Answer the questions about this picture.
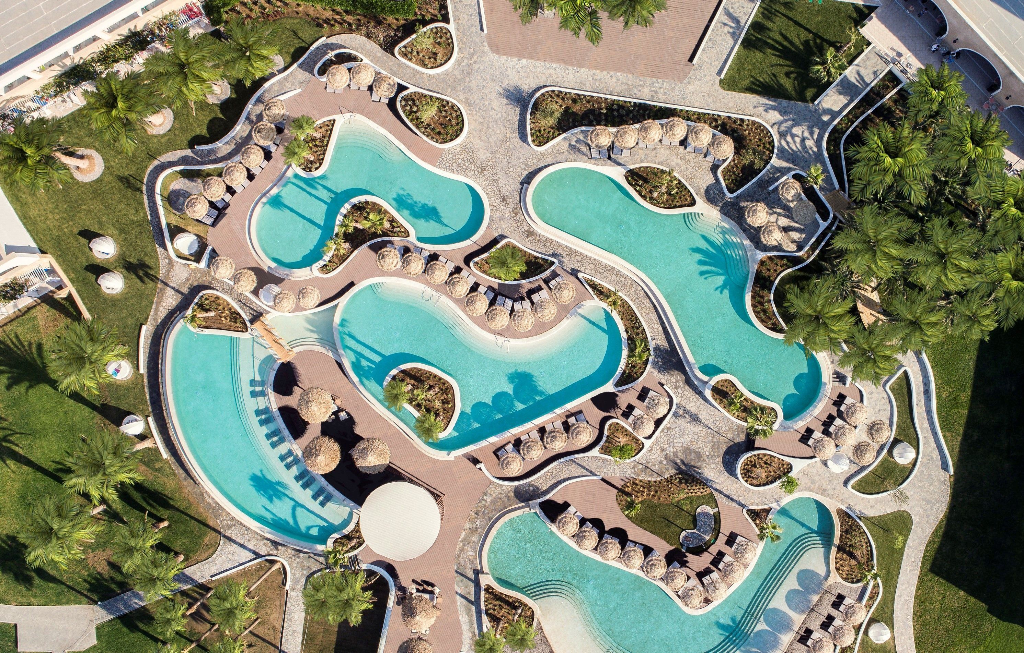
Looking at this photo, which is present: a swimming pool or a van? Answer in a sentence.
It is a swimming pool that can be seen here.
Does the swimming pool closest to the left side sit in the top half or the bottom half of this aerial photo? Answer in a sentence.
It is in the bottom half that the swimming pool closest to the left side appears.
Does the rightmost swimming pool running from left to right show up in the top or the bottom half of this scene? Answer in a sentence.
It is in the bottom half that the rightmost swimming pool running from left to right appears.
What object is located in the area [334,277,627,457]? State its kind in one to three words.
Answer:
swimming pool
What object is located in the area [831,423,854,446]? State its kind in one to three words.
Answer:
umbrella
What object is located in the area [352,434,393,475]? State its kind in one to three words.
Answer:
umbrella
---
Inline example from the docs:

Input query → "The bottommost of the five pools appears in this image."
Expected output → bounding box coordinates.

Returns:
[482,492,835,653]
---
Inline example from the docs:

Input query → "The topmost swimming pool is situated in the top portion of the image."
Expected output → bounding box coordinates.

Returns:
[251,112,490,274]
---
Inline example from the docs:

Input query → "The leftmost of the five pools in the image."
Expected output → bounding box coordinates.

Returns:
[164,299,358,550]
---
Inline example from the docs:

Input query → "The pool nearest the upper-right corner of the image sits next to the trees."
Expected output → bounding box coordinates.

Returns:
[527,161,828,425]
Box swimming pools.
[482,492,835,653]
[164,299,358,550]
[334,277,627,457]
[251,112,490,274]
[527,161,828,425]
